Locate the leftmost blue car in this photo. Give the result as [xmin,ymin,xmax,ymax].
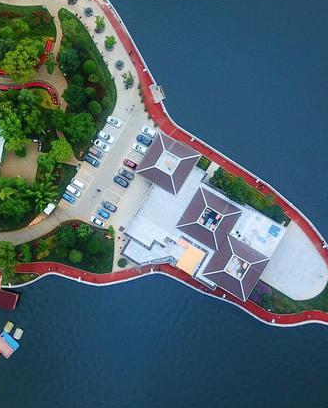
[61,191,77,204]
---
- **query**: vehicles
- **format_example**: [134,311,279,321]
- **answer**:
[69,177,84,189]
[118,168,135,180]
[95,207,111,219]
[97,130,113,143]
[64,184,81,197]
[135,133,152,147]
[113,175,130,188]
[93,139,110,151]
[83,155,99,167]
[101,200,118,213]
[104,115,121,128]
[61,191,77,204]
[131,142,148,155]
[140,126,157,138]
[88,146,103,159]
[89,215,105,228]
[122,158,138,170]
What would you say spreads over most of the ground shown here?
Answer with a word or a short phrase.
water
